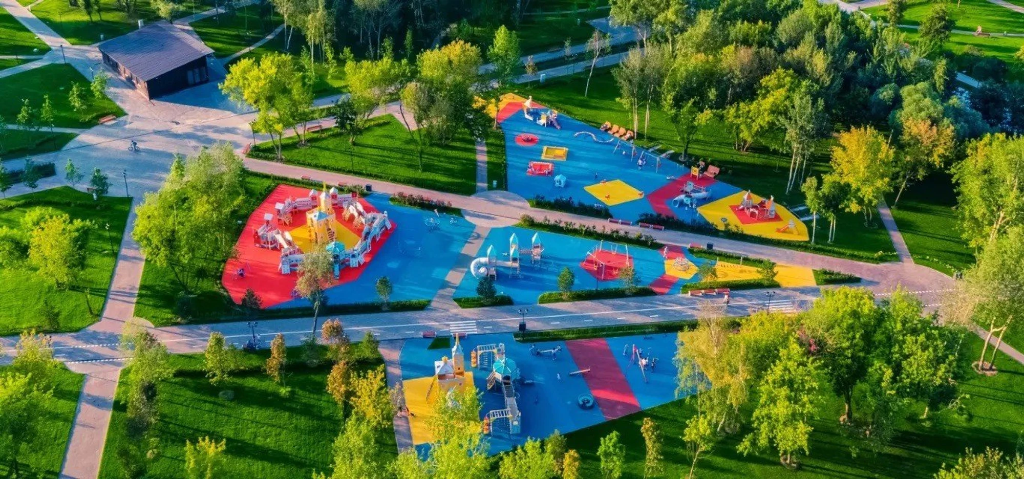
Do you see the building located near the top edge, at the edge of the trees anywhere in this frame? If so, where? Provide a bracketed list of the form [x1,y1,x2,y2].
[97,20,209,99]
